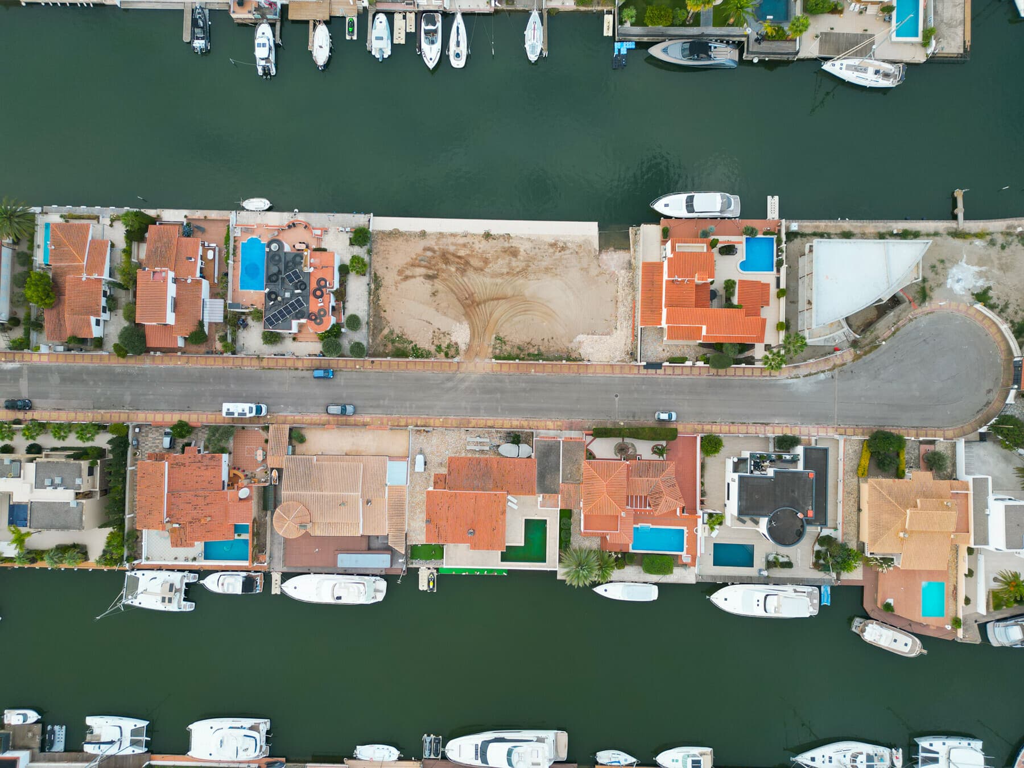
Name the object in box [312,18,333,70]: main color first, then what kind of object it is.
white boat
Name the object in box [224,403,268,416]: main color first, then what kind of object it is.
white vehicle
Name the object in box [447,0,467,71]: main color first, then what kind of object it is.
white boat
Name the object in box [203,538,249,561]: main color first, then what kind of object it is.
blue swimming pool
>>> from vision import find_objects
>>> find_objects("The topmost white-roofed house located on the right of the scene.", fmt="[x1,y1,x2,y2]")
[797,239,932,346]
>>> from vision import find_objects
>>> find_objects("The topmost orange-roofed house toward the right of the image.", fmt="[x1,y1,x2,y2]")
[639,238,770,345]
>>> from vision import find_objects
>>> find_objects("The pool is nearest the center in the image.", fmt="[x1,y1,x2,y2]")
[499,517,549,565]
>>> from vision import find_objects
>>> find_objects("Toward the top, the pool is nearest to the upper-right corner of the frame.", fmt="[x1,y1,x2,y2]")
[891,0,924,42]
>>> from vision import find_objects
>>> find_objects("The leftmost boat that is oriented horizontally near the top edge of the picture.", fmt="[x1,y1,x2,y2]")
[648,38,742,71]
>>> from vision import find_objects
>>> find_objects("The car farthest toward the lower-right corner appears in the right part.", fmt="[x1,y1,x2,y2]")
[654,409,676,423]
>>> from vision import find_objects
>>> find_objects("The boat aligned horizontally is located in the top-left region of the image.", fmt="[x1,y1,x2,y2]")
[235,197,271,211]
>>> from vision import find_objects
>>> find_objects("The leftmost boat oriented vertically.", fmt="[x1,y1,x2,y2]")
[44,721,56,752]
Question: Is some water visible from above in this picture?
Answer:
Yes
